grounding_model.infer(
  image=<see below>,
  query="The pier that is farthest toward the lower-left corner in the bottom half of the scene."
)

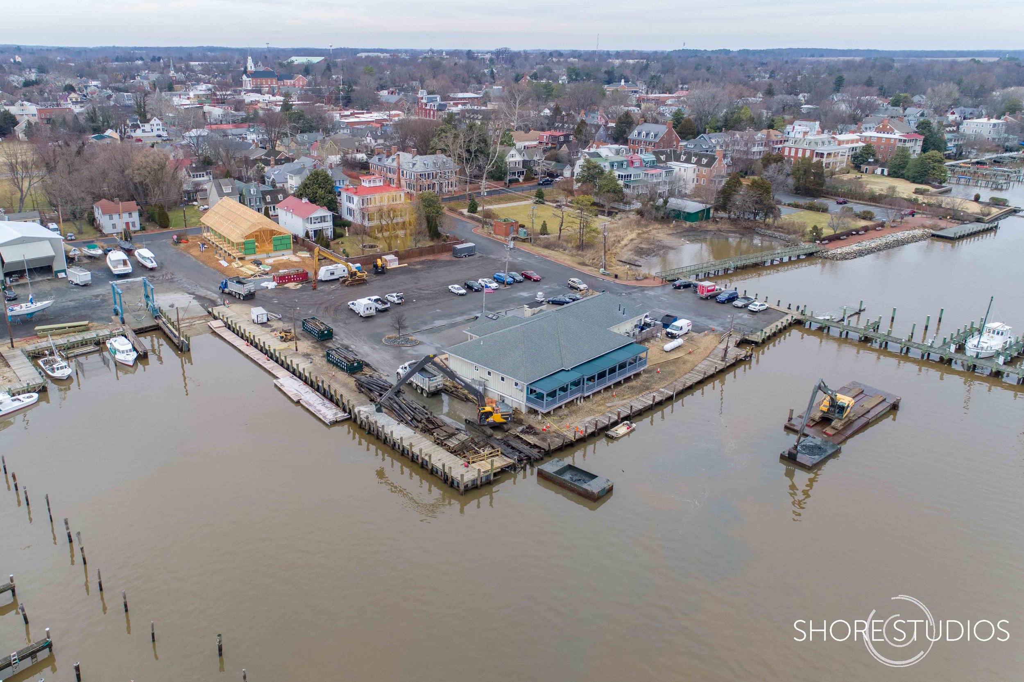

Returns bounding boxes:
[0,626,58,672]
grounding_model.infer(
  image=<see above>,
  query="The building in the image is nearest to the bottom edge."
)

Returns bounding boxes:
[444,292,655,415]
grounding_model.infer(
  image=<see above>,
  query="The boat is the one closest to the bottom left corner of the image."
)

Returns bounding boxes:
[0,387,45,413]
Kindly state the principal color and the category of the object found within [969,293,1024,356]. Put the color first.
white boat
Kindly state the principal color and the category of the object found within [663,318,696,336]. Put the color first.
white vehicle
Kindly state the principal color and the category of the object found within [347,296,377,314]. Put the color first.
white vehicle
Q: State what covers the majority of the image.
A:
water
